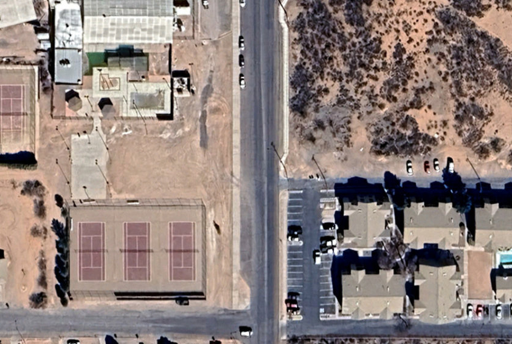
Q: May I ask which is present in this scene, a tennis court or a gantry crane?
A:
tennis court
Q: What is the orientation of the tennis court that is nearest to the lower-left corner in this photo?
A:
vertically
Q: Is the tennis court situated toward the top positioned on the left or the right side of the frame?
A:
left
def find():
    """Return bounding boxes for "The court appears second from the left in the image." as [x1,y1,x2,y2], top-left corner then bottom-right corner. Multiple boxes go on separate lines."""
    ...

[75,222,106,282]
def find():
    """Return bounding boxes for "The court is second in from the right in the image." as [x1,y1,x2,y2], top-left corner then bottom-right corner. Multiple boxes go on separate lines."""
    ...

[166,222,200,282]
